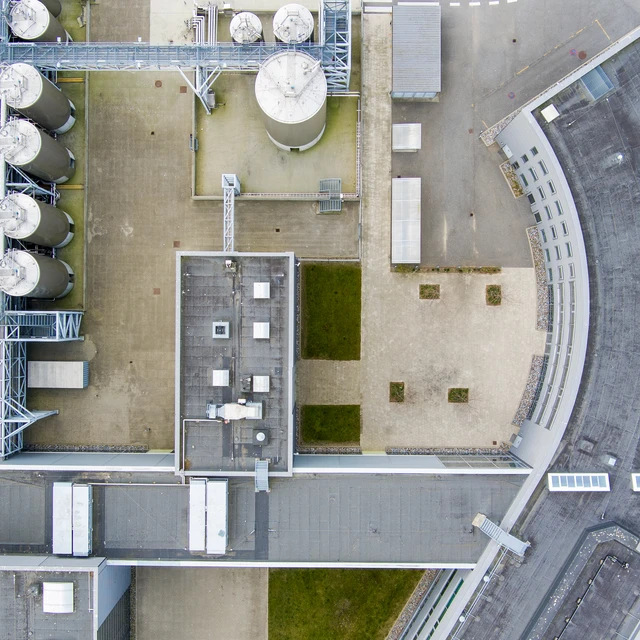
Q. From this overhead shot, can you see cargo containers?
Yes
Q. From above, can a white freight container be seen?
Yes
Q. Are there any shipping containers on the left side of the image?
Yes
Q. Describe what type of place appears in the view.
industrial area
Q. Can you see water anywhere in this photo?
No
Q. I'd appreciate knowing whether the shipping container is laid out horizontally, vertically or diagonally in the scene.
horizontally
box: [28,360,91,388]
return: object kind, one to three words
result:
shipping container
